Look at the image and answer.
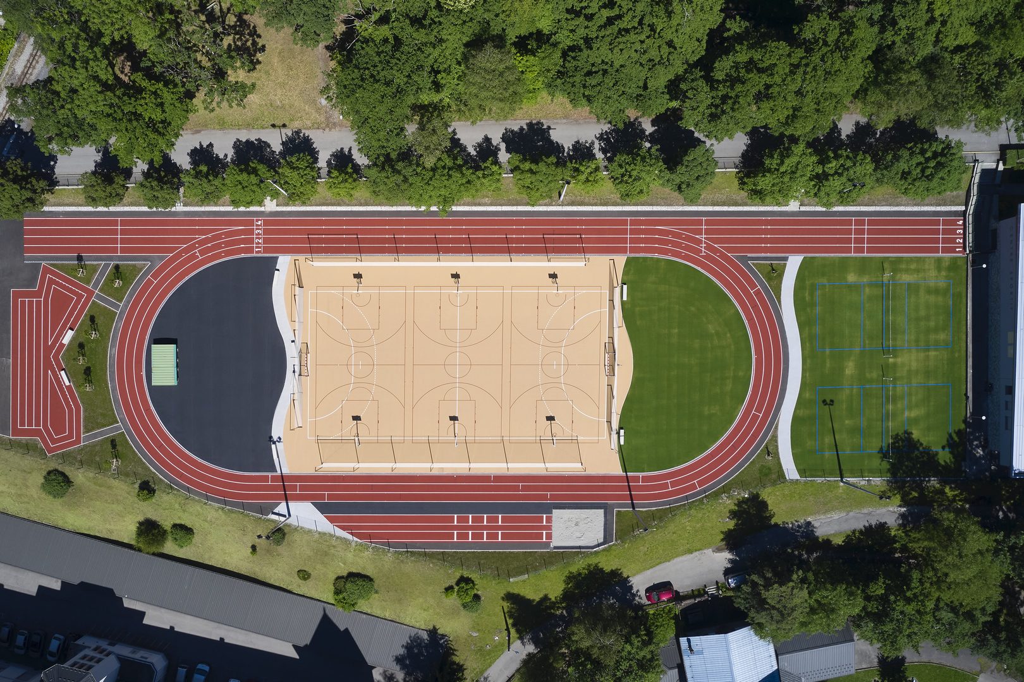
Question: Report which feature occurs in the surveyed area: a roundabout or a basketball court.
basketball court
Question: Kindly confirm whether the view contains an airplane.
No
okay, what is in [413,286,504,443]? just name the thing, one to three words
basketball court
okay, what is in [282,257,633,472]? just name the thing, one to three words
sports court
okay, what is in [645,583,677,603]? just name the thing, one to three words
car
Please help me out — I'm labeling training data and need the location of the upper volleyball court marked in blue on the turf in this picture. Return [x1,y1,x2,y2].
[817,280,952,351]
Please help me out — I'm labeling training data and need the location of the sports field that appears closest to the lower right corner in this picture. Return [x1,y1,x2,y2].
[790,256,967,478]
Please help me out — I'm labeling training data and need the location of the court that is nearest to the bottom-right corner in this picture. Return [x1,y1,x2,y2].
[817,384,952,454]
